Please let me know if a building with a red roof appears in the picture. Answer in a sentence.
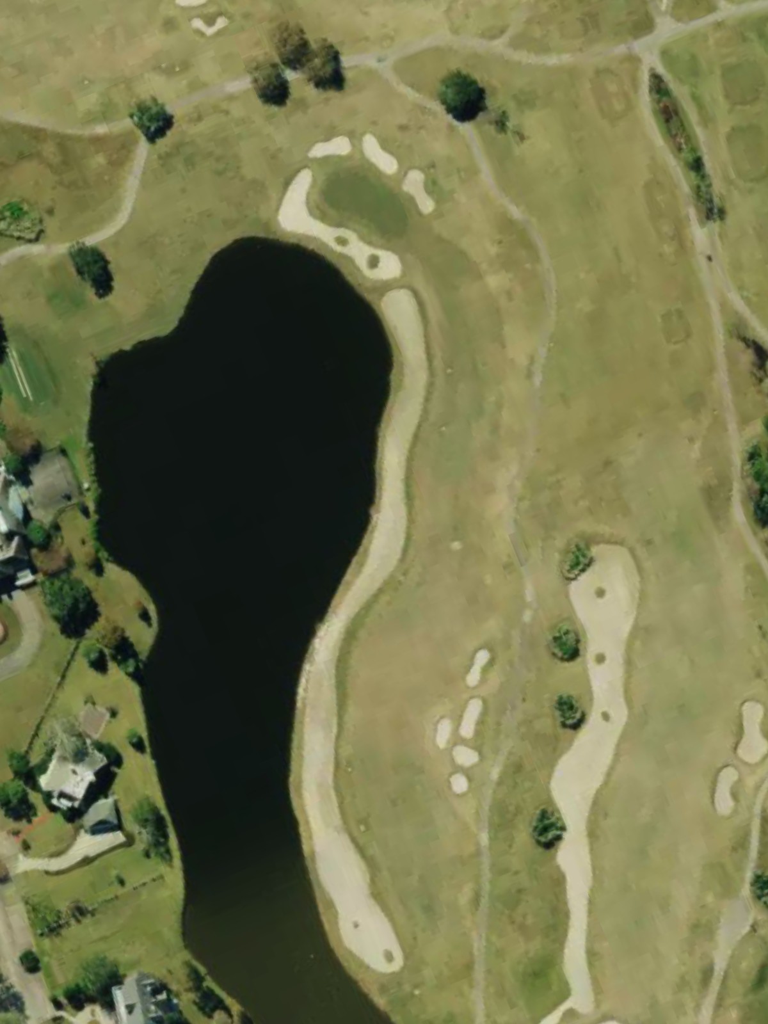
No, this view has no building with a red roof in it.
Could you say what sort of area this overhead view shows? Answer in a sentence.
This image shows a golf course.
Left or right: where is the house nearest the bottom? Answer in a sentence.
The house nearest the bottom appears in the left half of the scene.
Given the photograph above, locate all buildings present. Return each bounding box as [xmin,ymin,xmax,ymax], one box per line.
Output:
[112,972,171,1024]
[0,456,29,560]
[36,740,113,813]
[82,798,120,837]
